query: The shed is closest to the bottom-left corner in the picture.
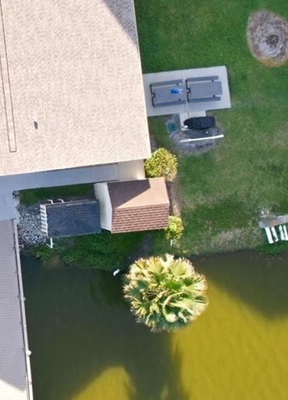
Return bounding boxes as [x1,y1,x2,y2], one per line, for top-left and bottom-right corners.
[37,199,101,246]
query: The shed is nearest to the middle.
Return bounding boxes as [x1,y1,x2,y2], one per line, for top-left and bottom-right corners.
[100,177,174,234]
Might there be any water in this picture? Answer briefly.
Yes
